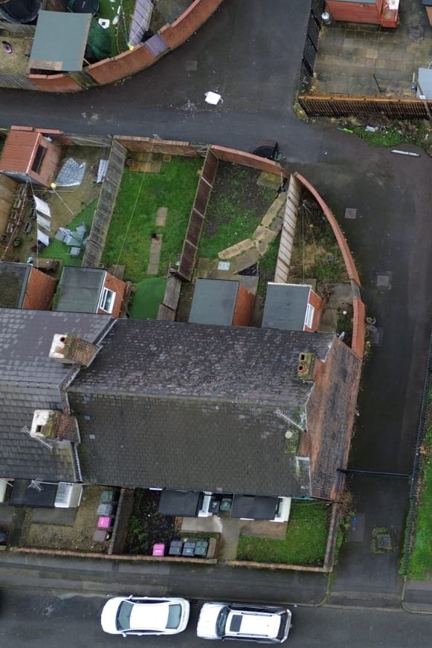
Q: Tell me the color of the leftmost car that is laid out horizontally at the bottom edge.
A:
white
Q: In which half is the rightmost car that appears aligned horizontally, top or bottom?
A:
bottom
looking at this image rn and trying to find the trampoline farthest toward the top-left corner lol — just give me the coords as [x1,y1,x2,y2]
[0,0,45,24]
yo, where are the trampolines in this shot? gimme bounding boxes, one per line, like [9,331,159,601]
[0,0,45,24]
[65,0,98,13]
